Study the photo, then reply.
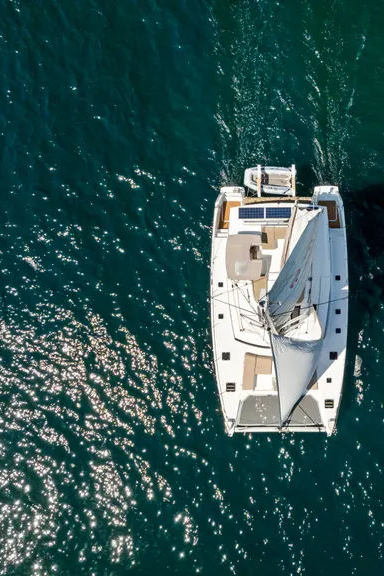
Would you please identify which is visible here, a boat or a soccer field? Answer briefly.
boat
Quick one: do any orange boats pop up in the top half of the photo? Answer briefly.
No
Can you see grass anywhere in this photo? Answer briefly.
No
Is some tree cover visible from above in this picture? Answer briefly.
No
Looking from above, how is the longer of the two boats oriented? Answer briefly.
vertically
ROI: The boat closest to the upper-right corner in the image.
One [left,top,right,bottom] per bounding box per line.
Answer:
[244,166,292,196]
